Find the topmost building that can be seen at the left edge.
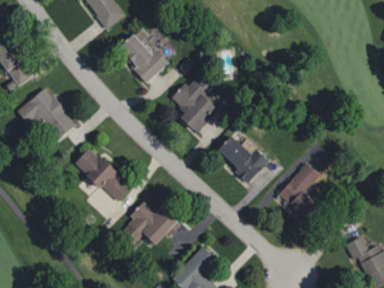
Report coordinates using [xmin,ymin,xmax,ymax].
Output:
[0,42,34,86]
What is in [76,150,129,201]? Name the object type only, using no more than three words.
house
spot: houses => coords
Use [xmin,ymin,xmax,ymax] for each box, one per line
[218,138,270,183]
[124,27,171,83]
[124,202,181,245]
[172,78,219,134]
[16,87,76,140]
[278,162,320,208]
[76,150,129,201]
[0,42,34,86]
[84,0,126,29]
[348,236,384,288]
[174,247,218,288]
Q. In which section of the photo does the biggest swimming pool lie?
top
